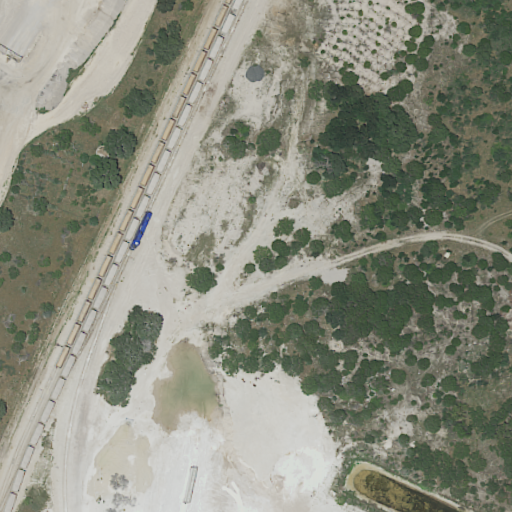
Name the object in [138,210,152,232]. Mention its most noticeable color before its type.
blue rail car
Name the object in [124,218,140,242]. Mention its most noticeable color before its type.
white rail car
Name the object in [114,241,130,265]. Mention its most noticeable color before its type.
white rail car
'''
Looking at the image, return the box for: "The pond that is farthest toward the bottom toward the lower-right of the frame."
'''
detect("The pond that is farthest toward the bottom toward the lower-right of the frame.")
[354,470,454,512]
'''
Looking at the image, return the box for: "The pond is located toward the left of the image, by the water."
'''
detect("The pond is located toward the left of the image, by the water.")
[152,338,217,434]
